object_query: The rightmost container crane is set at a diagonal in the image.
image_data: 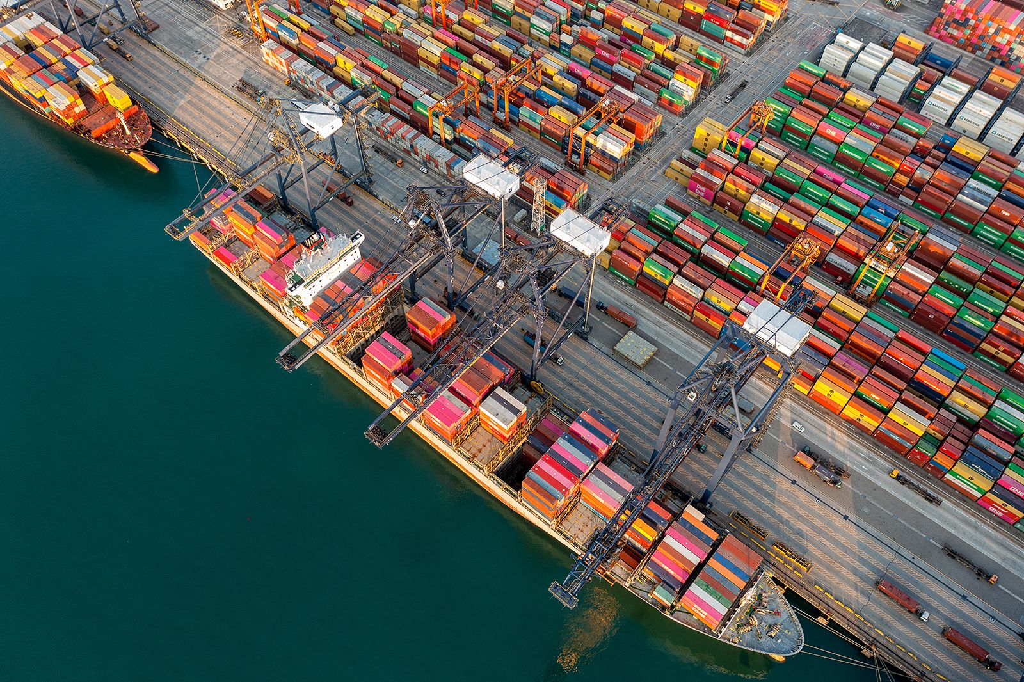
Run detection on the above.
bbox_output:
[849,219,923,304]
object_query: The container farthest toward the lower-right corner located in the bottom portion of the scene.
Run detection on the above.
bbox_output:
[952,629,997,664]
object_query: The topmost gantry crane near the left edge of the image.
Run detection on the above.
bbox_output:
[39,0,138,54]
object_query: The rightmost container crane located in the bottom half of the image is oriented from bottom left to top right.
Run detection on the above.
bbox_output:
[538,286,819,620]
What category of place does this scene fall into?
port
